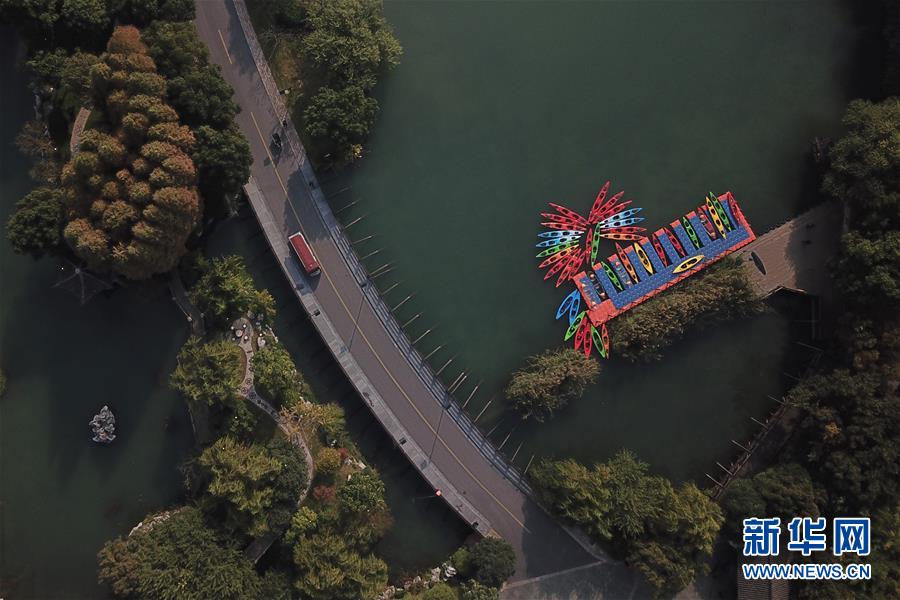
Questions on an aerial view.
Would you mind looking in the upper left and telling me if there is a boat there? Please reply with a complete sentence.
No, no boat appears in the upper left.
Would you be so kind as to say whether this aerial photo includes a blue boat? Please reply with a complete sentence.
Yes, you can see a blue boat in this photo.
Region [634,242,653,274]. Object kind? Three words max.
boat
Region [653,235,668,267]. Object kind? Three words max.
boat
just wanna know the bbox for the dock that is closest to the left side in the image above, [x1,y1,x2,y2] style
[570,191,757,327]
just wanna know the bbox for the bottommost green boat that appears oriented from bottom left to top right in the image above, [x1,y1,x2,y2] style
[565,311,586,340]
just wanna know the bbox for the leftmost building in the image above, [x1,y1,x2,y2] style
[51,241,113,306]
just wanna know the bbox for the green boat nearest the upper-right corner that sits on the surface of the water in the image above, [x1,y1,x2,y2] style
[710,192,731,232]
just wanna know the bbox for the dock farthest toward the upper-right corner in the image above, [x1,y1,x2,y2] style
[741,199,848,300]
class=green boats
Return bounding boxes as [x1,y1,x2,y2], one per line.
[536,241,579,257]
[592,223,601,265]
[684,217,700,249]
[601,262,622,291]
[592,324,605,358]
[710,192,731,232]
[565,311,586,340]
